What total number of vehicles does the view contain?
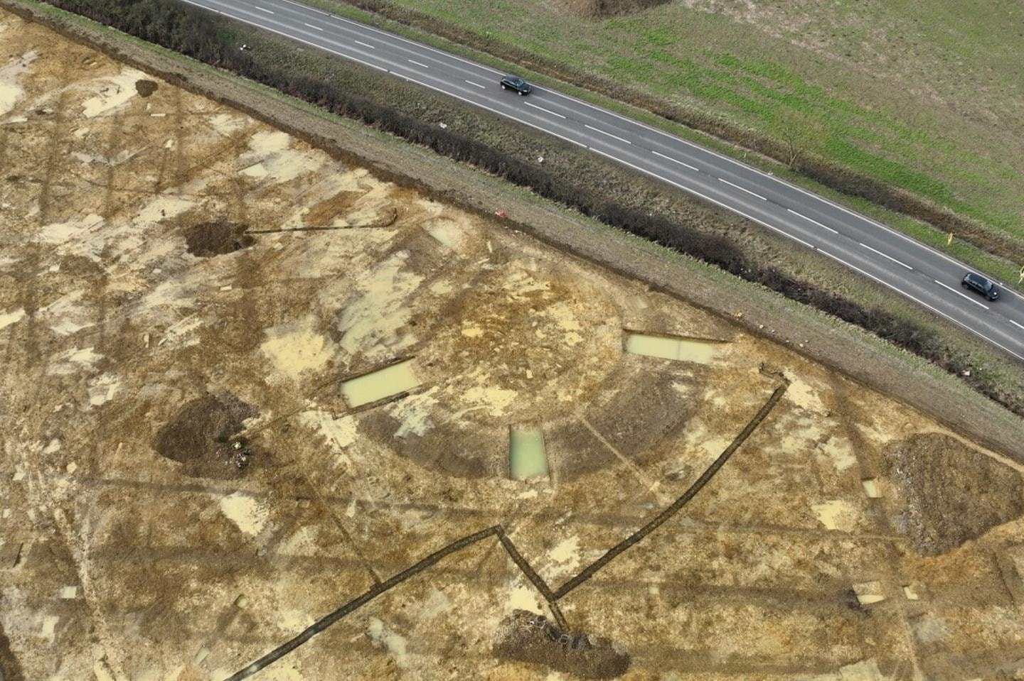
2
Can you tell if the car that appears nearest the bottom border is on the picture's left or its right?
right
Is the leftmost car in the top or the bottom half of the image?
top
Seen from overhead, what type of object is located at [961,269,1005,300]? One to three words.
car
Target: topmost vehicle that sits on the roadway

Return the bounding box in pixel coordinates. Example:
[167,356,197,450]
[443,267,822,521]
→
[499,72,530,93]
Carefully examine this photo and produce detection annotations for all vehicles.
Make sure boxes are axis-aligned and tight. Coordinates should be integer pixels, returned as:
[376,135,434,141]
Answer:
[961,269,1005,300]
[499,72,530,93]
